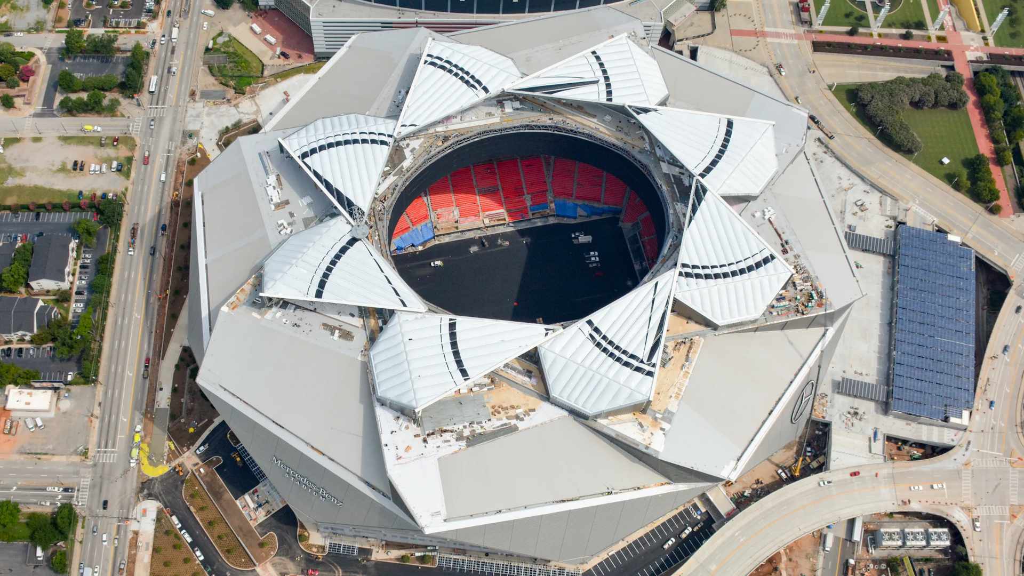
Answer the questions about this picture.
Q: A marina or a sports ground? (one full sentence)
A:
The area seen from above is a sports ground.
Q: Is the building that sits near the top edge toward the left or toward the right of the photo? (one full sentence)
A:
The building that sits near the top edge appears in the right half of the scene.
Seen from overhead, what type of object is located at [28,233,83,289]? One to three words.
house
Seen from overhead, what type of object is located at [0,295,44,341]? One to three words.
house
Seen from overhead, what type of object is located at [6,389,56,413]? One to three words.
building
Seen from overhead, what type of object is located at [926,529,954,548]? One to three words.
cooling tower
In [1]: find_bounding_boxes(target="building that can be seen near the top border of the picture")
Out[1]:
[658,4,716,65]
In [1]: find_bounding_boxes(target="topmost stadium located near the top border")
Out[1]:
[279,0,688,43]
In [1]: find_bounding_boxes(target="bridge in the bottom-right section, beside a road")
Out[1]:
[670,468,852,576]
